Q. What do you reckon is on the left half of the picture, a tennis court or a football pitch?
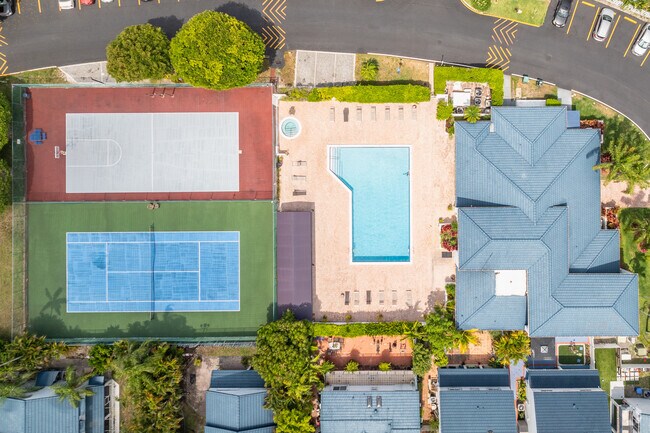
tennis court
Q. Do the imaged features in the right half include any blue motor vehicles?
No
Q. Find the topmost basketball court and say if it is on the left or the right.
left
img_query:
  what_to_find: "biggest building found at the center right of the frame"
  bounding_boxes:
[453,107,639,337]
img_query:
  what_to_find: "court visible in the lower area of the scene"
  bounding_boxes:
[24,202,272,338]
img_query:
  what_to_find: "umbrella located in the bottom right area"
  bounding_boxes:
[630,343,648,357]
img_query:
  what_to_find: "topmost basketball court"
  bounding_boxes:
[24,86,272,201]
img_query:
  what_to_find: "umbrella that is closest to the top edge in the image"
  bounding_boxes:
[452,92,470,106]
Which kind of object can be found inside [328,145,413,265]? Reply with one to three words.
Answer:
swimming pool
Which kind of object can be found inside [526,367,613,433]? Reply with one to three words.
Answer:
house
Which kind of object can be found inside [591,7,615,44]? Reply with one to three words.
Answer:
car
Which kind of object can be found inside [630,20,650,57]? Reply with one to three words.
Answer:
car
